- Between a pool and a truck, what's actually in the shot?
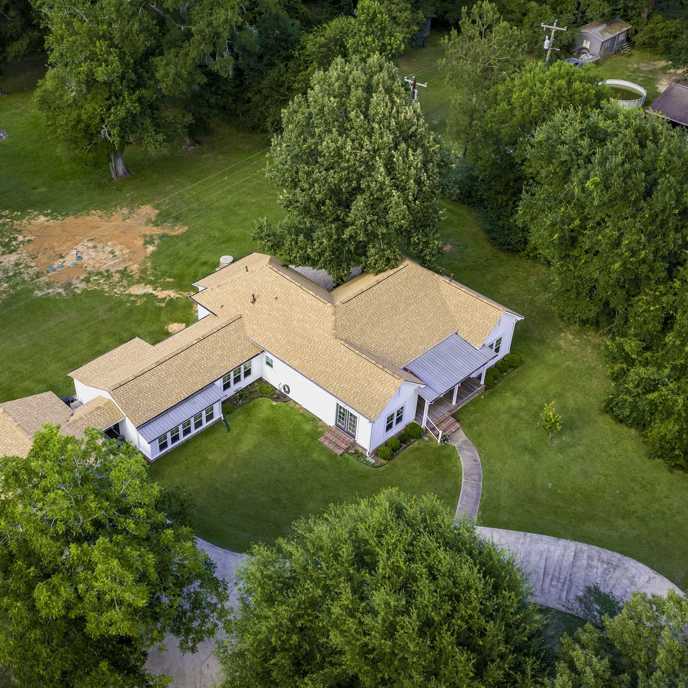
pool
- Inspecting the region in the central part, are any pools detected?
No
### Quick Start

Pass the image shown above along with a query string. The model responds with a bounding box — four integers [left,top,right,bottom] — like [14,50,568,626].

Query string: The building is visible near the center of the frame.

[65,251,524,457]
